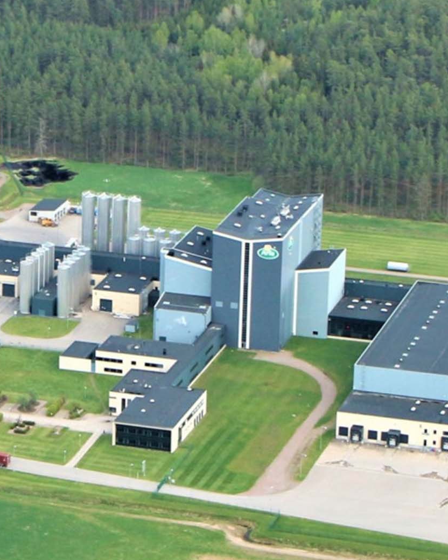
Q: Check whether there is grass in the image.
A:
Yes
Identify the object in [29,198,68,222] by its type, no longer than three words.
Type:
building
